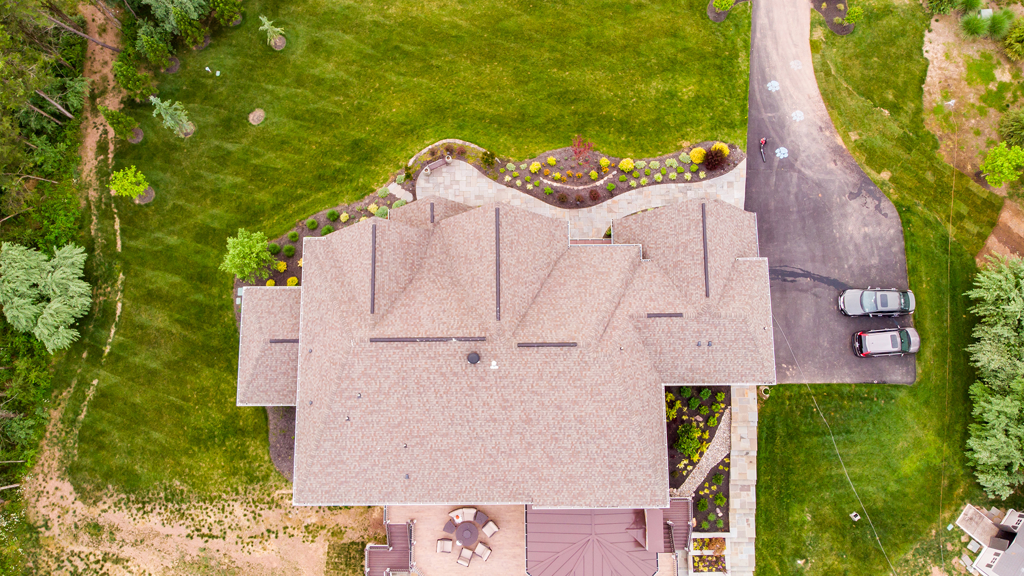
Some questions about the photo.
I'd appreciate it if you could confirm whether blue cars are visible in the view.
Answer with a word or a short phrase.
No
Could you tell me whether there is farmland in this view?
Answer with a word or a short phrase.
No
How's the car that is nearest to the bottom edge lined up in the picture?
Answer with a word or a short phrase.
from left to right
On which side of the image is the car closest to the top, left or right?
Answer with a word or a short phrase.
right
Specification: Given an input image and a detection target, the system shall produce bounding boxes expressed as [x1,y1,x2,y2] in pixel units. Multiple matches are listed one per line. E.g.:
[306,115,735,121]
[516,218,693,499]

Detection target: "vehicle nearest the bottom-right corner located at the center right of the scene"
[848,325,919,359]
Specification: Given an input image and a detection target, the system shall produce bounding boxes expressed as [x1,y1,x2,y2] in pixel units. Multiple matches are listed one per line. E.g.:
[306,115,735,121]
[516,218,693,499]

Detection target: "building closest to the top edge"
[234,197,778,510]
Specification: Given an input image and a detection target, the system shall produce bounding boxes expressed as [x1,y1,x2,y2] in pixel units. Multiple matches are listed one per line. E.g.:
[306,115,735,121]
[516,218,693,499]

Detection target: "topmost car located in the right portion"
[835,285,915,319]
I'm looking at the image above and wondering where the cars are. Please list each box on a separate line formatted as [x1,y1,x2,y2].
[835,285,915,319]
[848,325,919,359]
